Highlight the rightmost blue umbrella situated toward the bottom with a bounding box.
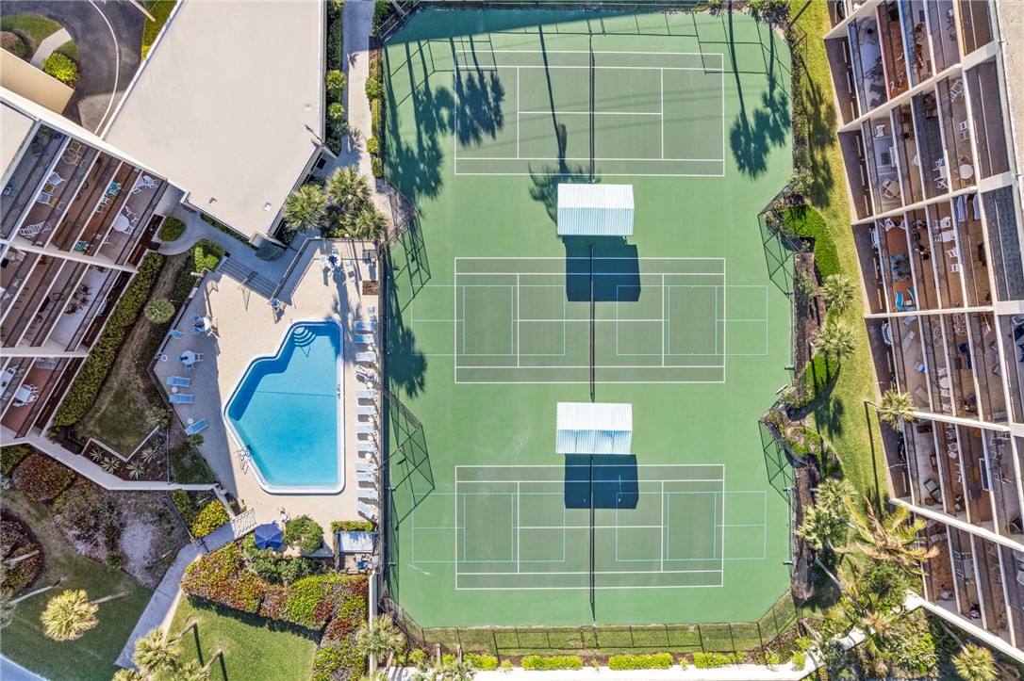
[244,521,275,552]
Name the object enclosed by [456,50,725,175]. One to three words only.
tennis court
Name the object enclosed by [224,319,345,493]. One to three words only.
swimming pool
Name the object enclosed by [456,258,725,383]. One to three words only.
tennis court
